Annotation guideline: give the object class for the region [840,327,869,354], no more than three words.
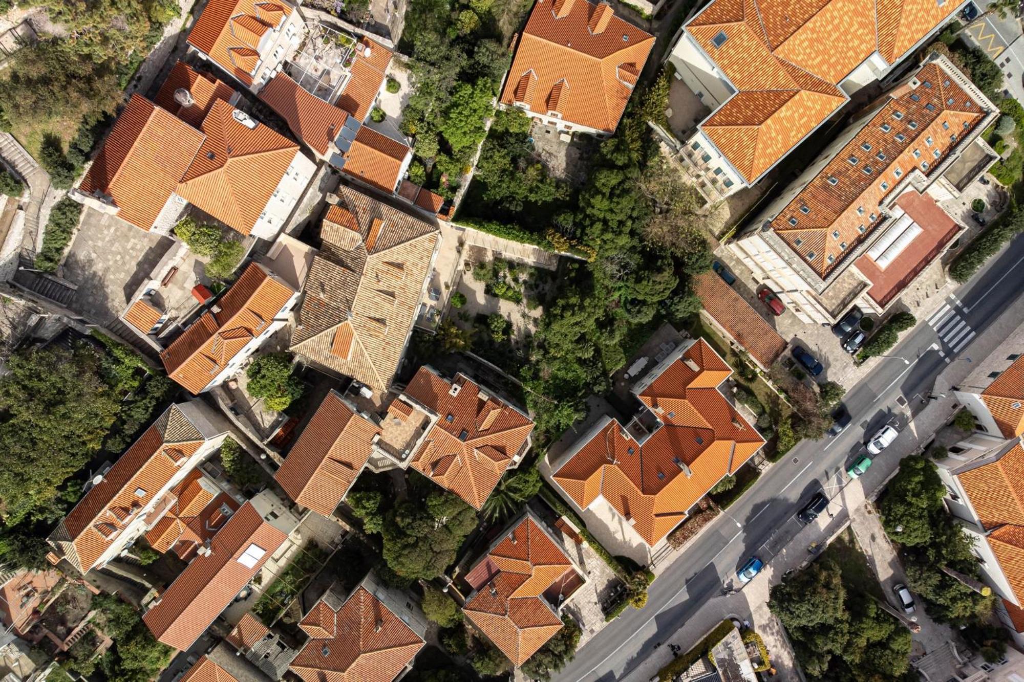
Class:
car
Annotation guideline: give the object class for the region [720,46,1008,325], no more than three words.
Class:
building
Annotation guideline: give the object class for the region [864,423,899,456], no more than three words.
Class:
car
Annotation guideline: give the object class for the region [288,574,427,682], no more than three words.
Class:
house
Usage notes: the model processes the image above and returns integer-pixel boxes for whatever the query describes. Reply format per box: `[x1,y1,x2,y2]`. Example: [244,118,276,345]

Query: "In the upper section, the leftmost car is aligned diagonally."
[707,256,739,289]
